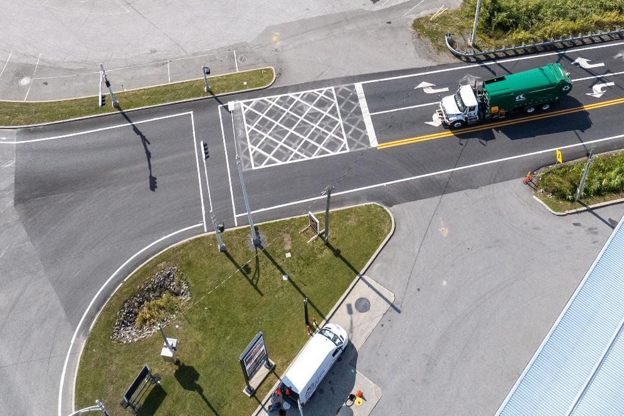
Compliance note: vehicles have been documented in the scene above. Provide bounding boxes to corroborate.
[269,326,355,416]
[434,61,582,129]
